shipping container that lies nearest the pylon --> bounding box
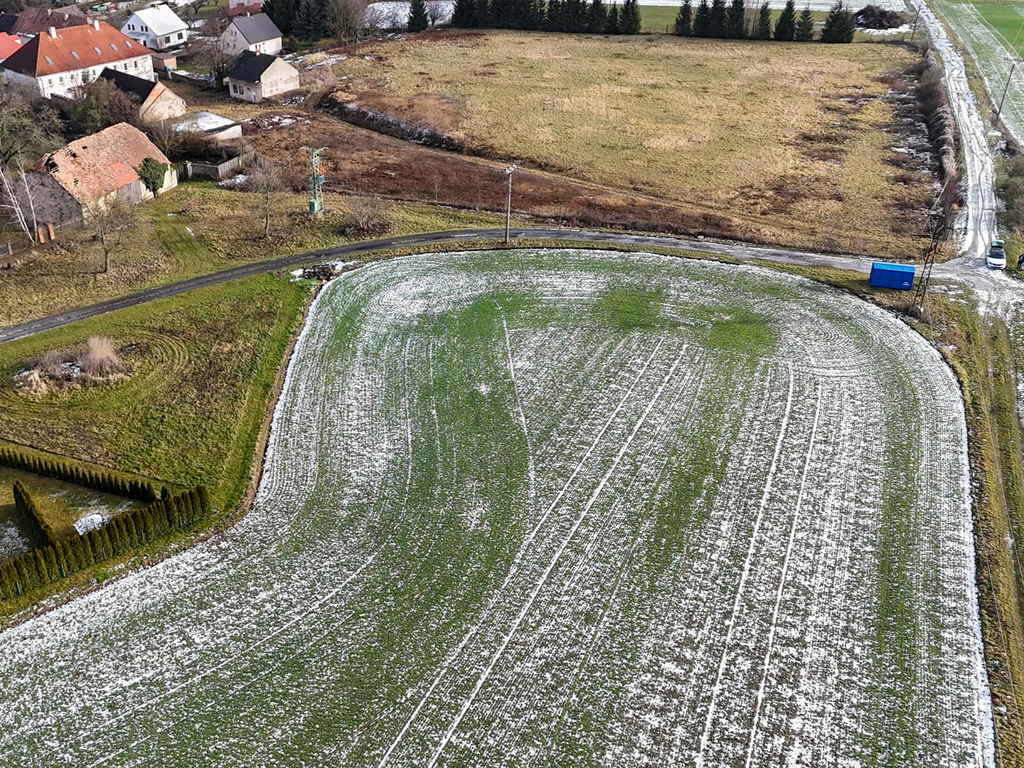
[866,261,920,290]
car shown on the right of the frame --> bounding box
[983,233,1012,266]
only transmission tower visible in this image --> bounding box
[909,202,969,312]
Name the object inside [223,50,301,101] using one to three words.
house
